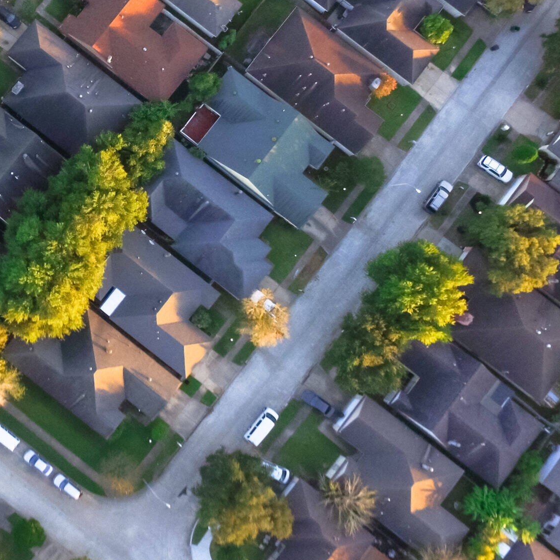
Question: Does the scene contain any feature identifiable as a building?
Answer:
Yes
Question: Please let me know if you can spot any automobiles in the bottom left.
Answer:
Yes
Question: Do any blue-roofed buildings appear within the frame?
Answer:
Yes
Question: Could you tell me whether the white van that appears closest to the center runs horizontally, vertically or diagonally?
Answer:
diagonally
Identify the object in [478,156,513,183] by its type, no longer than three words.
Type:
car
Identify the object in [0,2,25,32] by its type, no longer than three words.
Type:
car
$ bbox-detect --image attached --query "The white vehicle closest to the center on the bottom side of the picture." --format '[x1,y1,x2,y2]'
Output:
[245,408,278,448]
